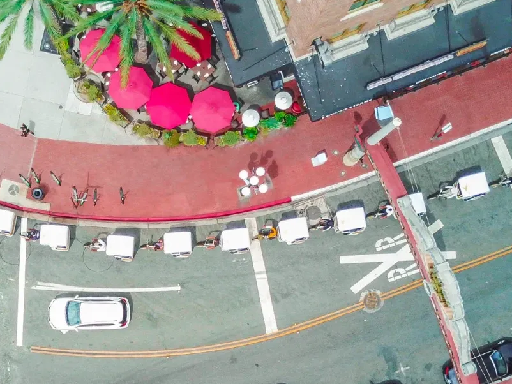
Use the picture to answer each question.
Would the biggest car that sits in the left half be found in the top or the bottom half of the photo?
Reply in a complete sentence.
Seen from above, the biggest car that sits in the left half lies in the bottom half of the view.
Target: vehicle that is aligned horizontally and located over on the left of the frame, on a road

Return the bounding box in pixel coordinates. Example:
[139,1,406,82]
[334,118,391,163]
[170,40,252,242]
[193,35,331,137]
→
[47,292,133,335]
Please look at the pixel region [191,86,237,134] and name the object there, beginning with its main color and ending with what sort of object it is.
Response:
pink umbrella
